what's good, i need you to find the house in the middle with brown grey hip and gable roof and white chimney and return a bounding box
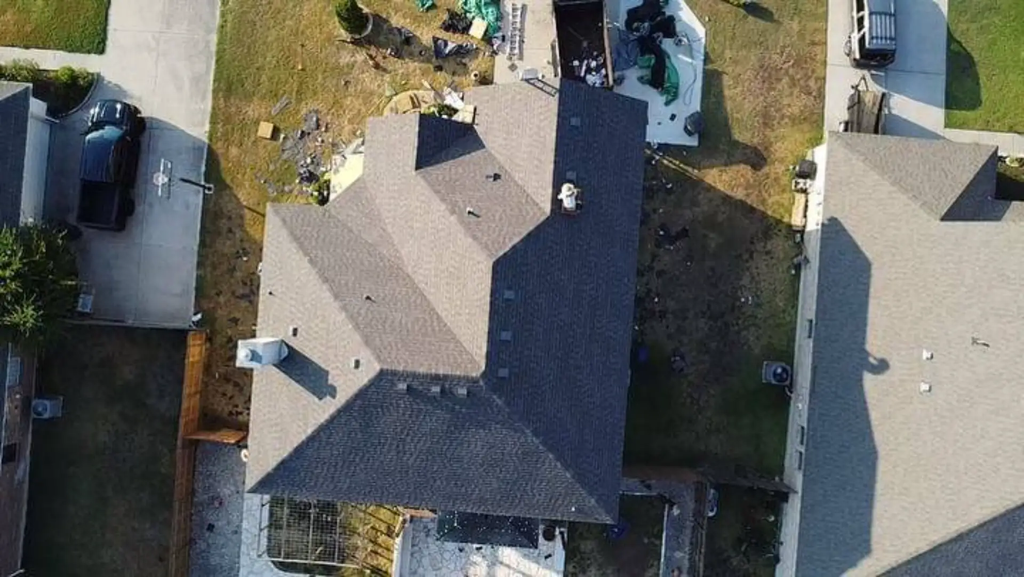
[234,80,648,524]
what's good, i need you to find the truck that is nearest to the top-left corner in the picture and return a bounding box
[73,96,140,229]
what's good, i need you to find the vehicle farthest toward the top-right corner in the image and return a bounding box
[852,0,910,67]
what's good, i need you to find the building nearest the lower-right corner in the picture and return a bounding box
[779,131,1024,577]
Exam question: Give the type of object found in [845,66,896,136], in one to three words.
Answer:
trailer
